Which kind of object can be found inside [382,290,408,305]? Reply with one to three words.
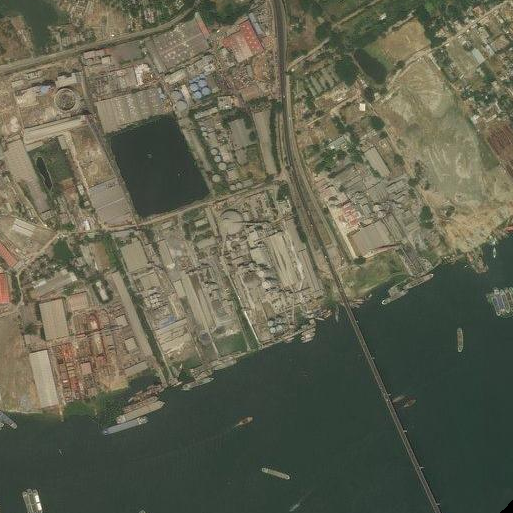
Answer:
ship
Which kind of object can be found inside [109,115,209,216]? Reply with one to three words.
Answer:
pond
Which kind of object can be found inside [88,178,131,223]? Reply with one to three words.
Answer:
building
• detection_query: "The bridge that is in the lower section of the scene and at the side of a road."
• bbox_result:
[338,287,441,513]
